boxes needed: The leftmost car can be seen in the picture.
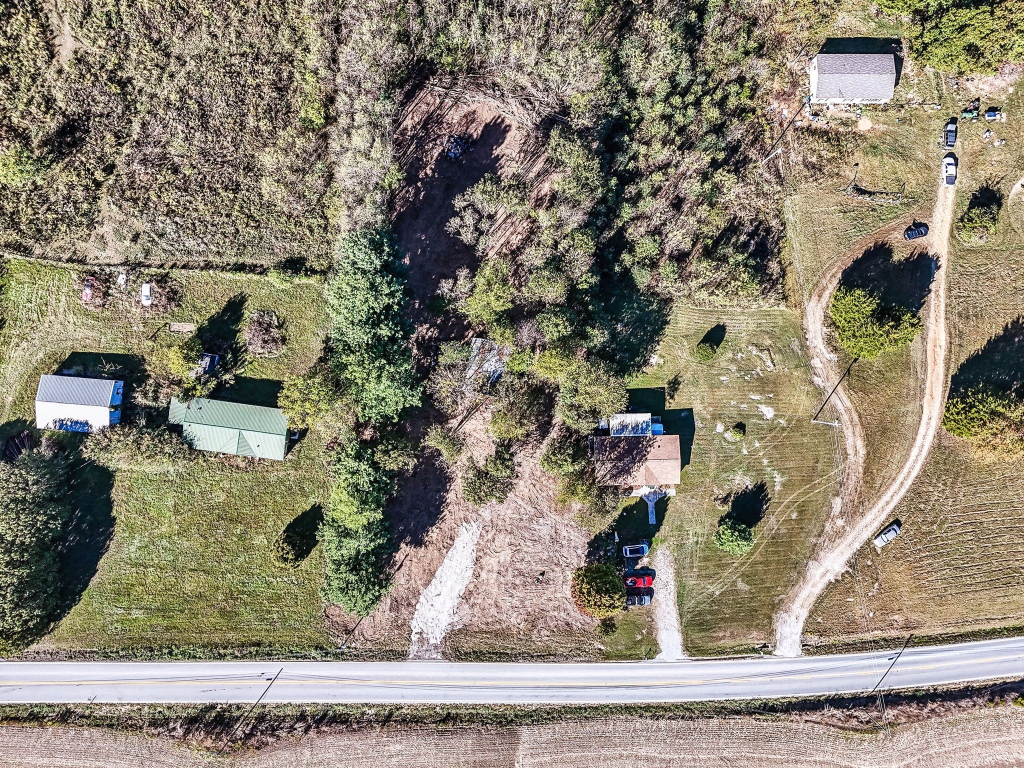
[81,276,95,301]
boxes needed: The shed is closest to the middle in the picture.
[463,337,513,390]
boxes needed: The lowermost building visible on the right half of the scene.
[594,413,682,487]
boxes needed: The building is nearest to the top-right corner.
[809,54,899,112]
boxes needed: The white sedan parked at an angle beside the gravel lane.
[872,521,900,547]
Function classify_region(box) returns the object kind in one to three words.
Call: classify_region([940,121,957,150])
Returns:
car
